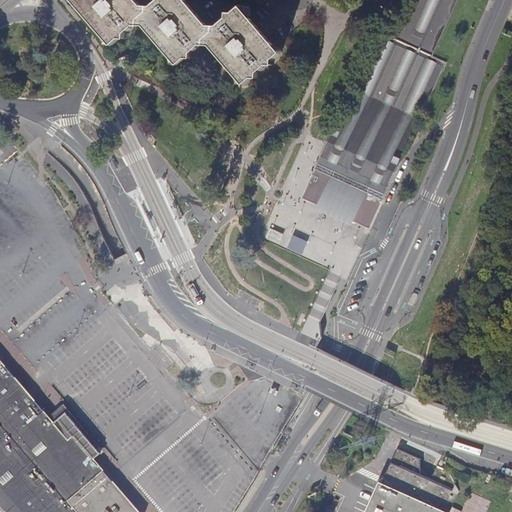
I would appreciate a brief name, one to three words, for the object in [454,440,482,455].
vehicle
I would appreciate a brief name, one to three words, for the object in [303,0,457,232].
train station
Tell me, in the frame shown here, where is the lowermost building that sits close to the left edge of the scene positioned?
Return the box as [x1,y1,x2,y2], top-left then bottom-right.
[0,358,140,512]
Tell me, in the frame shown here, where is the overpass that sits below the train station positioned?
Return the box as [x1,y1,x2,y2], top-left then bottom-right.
[302,344,405,429]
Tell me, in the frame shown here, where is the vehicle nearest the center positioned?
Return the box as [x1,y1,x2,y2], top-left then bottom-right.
[188,283,202,304]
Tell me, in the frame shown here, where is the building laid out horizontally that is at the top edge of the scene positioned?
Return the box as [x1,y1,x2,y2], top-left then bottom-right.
[66,0,277,85]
